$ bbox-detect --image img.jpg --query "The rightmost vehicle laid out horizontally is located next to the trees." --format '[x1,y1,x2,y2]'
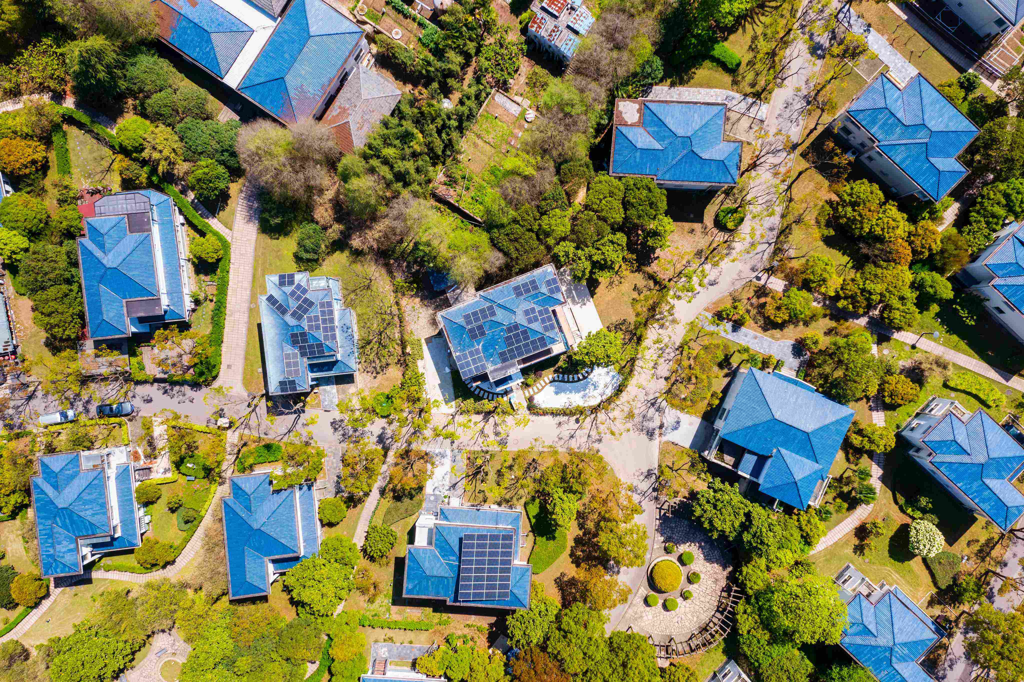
[96,401,137,418]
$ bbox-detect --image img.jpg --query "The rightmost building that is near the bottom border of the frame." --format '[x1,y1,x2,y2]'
[821,552,949,682]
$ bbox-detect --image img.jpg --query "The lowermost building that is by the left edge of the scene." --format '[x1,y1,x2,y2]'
[29,444,154,580]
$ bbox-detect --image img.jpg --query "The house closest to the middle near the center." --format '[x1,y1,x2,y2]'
[439,262,580,392]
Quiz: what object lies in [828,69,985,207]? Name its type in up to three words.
house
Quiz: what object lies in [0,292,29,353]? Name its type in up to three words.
building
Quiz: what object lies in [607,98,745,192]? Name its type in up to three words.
house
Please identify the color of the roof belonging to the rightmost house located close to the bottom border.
blue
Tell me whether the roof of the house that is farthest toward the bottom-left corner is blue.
Yes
